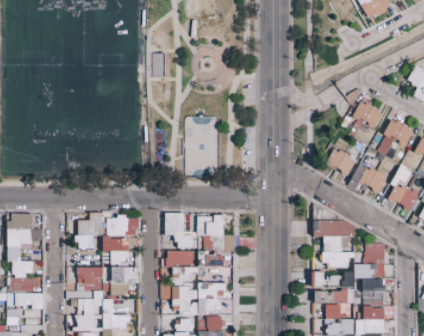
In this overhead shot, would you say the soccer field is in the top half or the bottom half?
top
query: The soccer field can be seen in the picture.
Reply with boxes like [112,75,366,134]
[1,0,141,173]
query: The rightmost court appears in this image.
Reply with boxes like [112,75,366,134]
[184,117,218,176]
